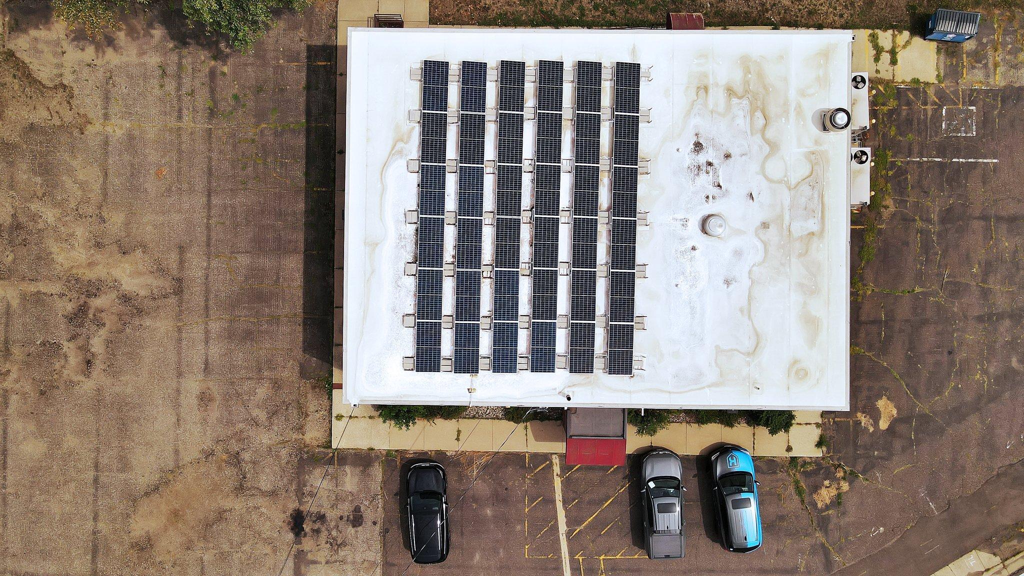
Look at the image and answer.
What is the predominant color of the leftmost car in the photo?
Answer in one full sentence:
The leftmost car is black.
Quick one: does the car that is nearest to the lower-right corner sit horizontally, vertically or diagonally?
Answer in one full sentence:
The car that is nearest to the lower-right corner is oriented vertically.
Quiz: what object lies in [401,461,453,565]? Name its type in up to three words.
car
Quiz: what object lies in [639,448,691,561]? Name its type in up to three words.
vehicle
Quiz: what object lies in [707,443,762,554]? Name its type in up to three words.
car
